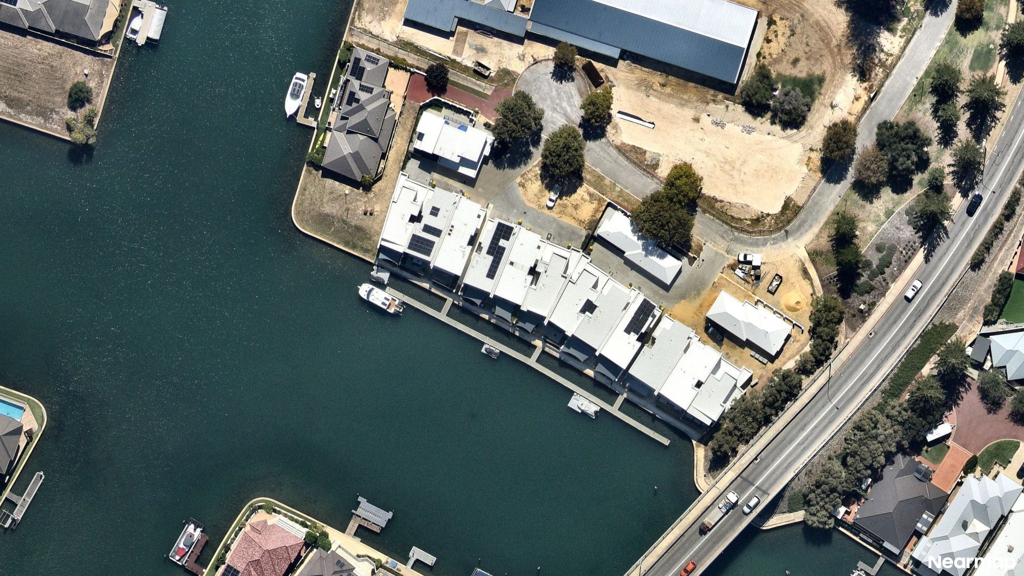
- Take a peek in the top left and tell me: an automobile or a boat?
boat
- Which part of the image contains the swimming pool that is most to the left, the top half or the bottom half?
bottom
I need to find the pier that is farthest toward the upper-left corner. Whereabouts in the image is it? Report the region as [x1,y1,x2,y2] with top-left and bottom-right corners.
[132,0,156,45]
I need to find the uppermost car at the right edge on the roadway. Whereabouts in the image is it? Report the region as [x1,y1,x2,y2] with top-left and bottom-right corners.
[965,191,985,218]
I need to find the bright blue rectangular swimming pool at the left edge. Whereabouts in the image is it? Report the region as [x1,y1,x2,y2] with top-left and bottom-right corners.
[0,397,27,423]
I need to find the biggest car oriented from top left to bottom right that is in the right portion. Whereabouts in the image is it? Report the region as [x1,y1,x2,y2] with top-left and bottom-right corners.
[704,323,727,345]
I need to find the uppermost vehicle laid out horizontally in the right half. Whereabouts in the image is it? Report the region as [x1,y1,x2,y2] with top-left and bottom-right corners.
[735,253,762,266]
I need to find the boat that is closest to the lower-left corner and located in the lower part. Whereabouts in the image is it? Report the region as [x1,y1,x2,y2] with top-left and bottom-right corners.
[177,520,200,555]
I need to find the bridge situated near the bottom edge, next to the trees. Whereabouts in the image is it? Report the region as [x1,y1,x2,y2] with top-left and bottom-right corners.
[625,462,781,576]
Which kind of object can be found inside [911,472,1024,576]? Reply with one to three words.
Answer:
house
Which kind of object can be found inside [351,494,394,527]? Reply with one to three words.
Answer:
pier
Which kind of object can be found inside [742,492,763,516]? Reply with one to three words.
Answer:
car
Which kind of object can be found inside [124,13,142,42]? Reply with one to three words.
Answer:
boat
